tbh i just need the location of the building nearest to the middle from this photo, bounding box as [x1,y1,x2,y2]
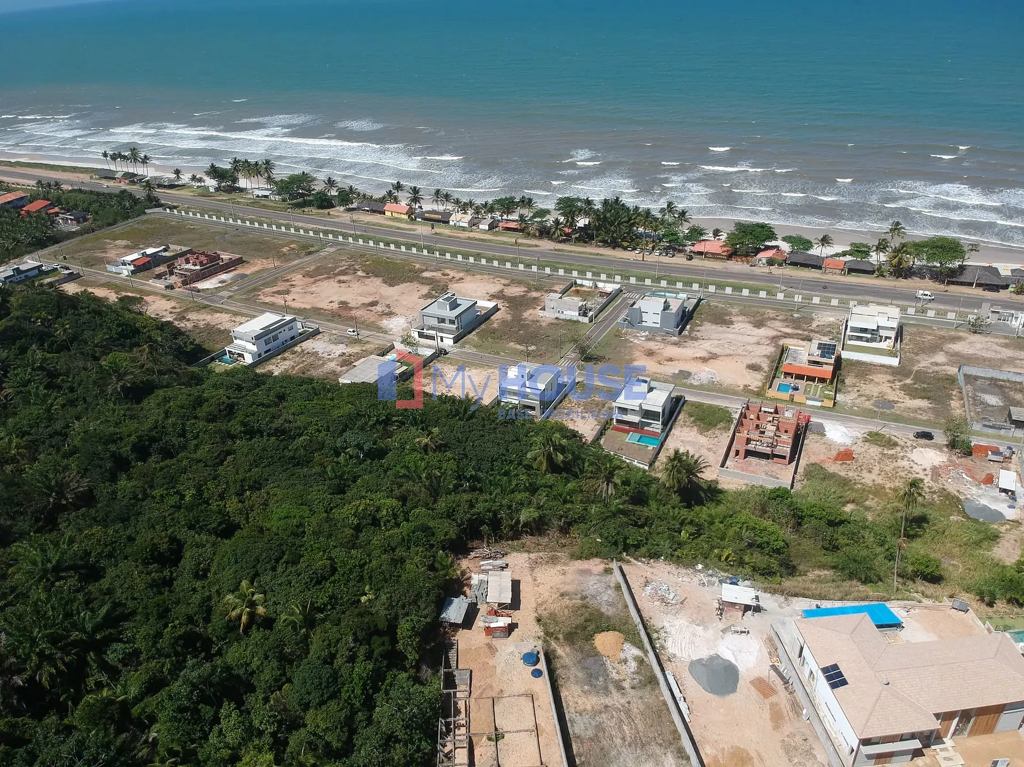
[495,361,564,423]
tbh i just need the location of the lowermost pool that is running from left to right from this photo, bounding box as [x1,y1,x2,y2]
[621,435,658,452]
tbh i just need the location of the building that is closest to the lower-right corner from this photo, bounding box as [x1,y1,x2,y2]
[791,613,1024,764]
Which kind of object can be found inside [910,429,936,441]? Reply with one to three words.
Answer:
vehicle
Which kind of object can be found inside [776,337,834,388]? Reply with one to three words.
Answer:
house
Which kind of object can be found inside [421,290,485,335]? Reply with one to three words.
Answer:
house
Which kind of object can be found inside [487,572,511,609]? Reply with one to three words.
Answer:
shed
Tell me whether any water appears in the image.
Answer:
Yes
